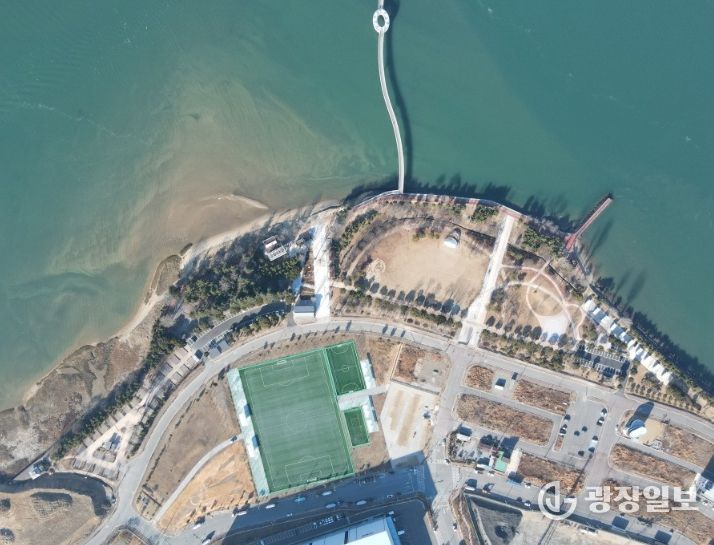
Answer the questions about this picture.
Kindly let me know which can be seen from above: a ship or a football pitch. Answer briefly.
football pitch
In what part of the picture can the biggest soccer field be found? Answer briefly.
bottom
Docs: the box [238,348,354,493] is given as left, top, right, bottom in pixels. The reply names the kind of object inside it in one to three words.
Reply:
soccer field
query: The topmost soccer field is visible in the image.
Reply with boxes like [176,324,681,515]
[326,340,365,394]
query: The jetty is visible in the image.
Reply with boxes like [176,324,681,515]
[563,195,615,250]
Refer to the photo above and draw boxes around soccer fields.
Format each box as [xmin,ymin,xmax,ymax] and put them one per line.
[238,348,354,493]
[326,340,365,394]
[344,408,368,445]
